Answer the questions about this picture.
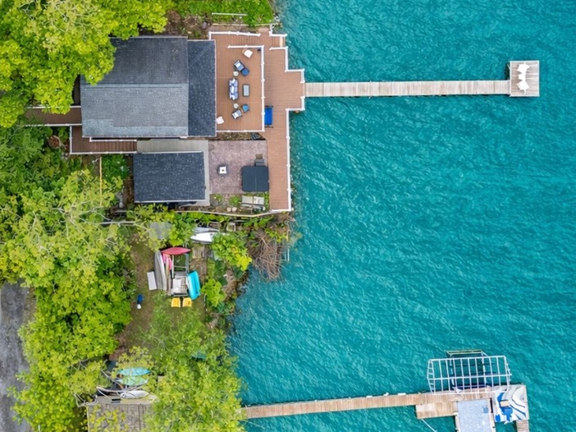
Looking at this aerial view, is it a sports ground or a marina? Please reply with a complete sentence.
It's a marina.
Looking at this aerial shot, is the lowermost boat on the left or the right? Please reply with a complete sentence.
The lowermost boat is on the right side of the image.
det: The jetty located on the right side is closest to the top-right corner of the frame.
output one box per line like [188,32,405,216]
[508,60,540,96]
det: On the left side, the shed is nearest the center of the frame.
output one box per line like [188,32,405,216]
[135,152,205,202]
